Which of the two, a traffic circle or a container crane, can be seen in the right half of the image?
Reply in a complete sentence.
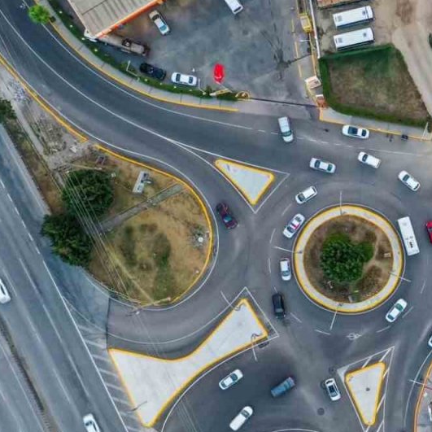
The one visible in the right half of the image is a traffic circle.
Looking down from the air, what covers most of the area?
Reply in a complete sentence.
Most of the picture is covered by paved ground.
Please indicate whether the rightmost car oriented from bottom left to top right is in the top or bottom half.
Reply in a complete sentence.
The rightmost car oriented from bottom left to top right is in the bottom half of the image.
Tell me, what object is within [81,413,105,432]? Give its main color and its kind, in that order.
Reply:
white car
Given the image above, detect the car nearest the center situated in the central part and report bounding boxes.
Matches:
[214,200,238,230]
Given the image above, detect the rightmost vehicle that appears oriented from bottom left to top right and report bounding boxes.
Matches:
[382,297,409,324]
